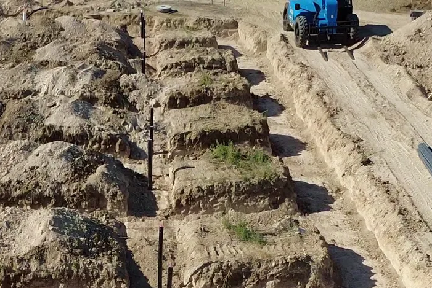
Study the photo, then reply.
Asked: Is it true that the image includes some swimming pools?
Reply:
No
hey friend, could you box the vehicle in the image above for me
[286,0,362,56]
